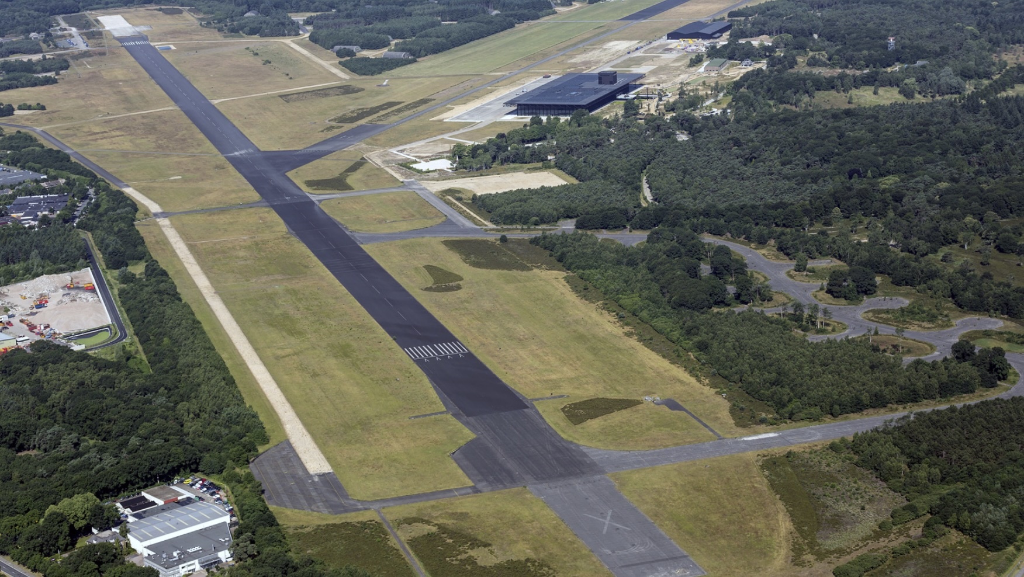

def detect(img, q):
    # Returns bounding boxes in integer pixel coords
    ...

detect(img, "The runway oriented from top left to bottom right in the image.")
[114,35,530,416]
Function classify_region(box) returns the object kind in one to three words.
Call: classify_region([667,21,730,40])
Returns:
hangar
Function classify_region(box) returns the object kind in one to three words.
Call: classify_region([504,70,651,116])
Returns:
building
